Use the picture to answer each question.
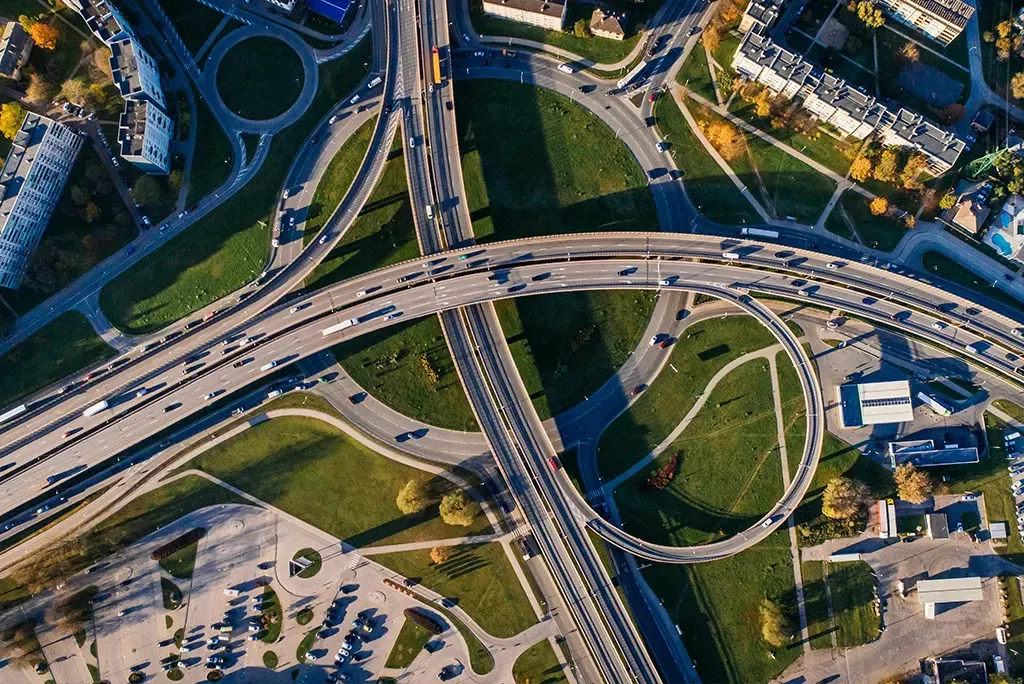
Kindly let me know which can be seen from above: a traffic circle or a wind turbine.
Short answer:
traffic circle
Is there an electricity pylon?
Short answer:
Yes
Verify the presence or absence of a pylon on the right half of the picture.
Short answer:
Yes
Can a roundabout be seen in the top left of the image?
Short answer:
Yes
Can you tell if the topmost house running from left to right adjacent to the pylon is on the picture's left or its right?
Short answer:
right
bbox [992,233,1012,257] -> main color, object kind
blue swimming pool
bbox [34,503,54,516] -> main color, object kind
blue vehicle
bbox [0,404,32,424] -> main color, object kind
white vehicle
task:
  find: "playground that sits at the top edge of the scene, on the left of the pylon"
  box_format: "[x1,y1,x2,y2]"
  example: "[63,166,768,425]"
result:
[815,18,848,52]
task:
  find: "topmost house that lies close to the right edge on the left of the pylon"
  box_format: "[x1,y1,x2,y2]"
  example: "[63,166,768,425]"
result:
[867,0,976,46]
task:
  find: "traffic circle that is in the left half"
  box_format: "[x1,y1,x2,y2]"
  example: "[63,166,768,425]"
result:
[202,21,316,135]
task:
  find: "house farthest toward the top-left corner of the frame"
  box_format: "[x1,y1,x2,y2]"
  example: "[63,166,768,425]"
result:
[0,22,42,83]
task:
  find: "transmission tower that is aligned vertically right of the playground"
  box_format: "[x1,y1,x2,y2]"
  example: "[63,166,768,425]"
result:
[967,27,1014,171]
